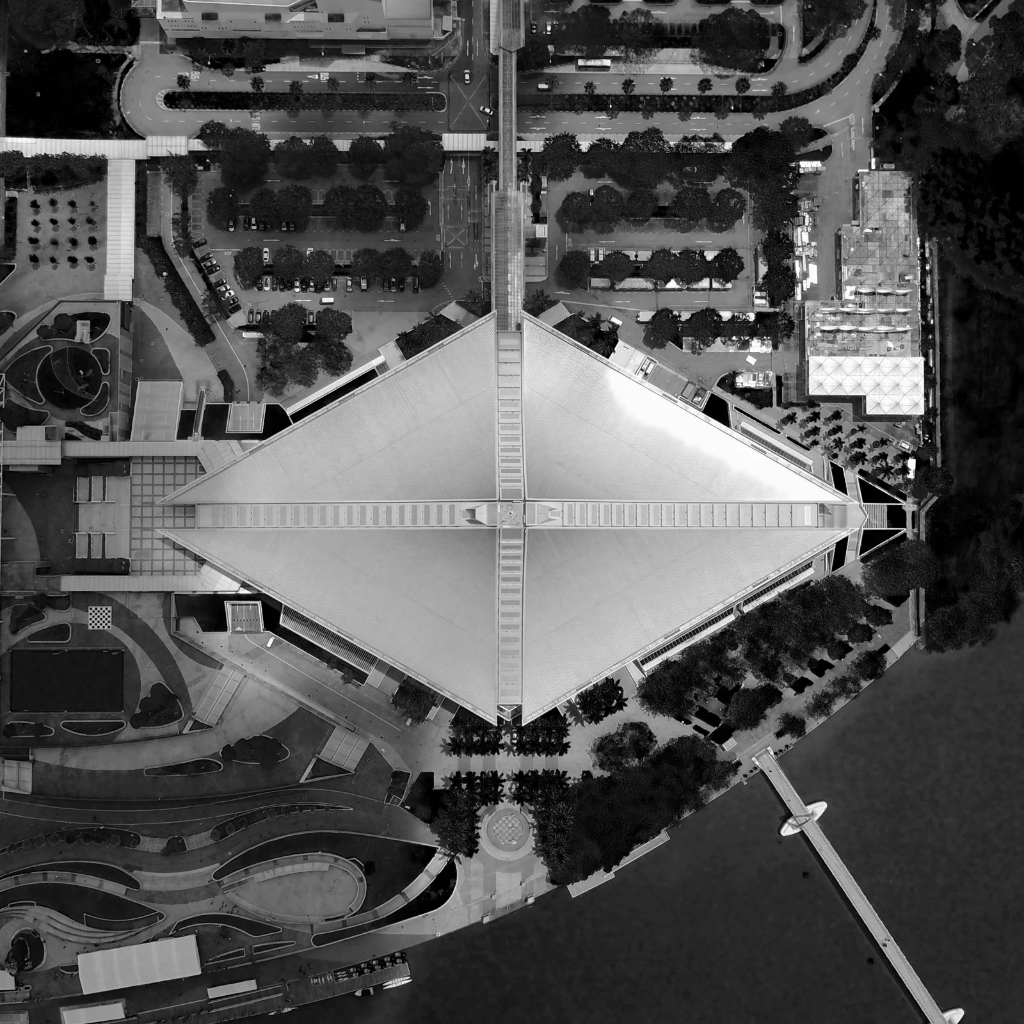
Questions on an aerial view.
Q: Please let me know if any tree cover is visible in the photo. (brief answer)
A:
Yes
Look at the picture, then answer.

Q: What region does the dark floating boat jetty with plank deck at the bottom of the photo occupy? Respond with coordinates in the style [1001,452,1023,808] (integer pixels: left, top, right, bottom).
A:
[203,959,411,1024]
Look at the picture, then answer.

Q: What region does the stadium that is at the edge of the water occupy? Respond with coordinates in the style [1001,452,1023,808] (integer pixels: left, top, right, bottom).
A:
[156,311,869,726]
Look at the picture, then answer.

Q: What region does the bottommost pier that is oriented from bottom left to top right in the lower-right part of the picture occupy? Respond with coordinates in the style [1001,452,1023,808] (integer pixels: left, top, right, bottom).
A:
[777,798,827,833]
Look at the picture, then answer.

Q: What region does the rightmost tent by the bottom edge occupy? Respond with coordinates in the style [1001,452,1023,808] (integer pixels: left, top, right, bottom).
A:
[207,977,257,999]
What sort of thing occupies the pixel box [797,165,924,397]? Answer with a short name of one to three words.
building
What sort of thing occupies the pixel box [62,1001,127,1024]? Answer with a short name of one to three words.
tent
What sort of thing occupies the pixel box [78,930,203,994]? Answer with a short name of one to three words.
tent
